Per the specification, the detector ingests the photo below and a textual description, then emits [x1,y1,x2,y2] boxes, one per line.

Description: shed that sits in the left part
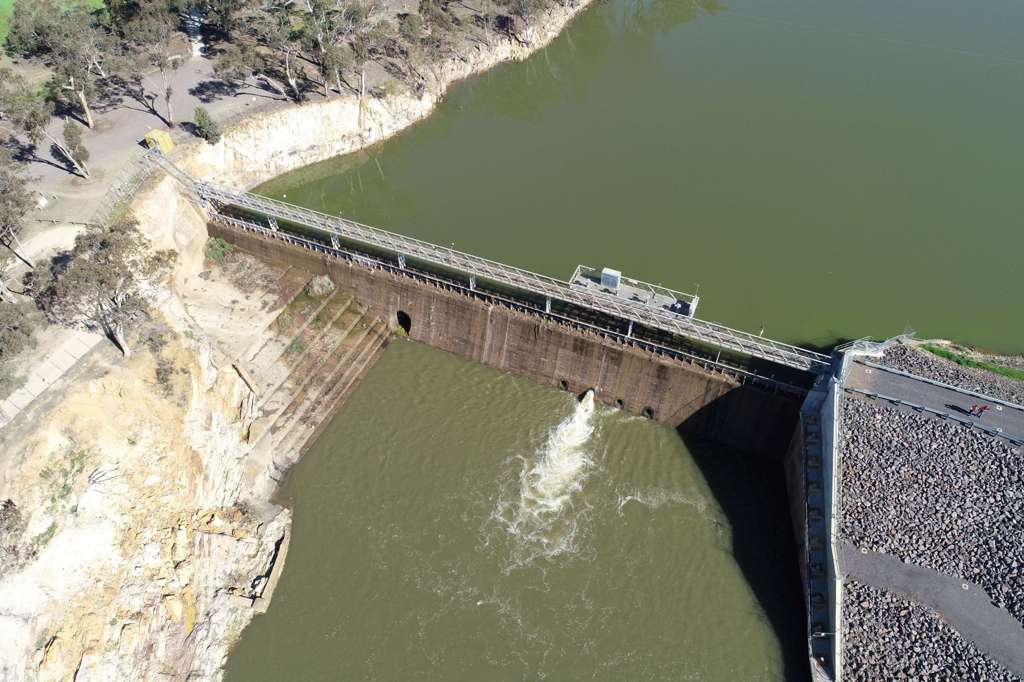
[144,129,179,155]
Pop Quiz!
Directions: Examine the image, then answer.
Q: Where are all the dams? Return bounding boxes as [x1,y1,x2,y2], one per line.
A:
[203,217,805,461]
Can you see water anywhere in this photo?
Yes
